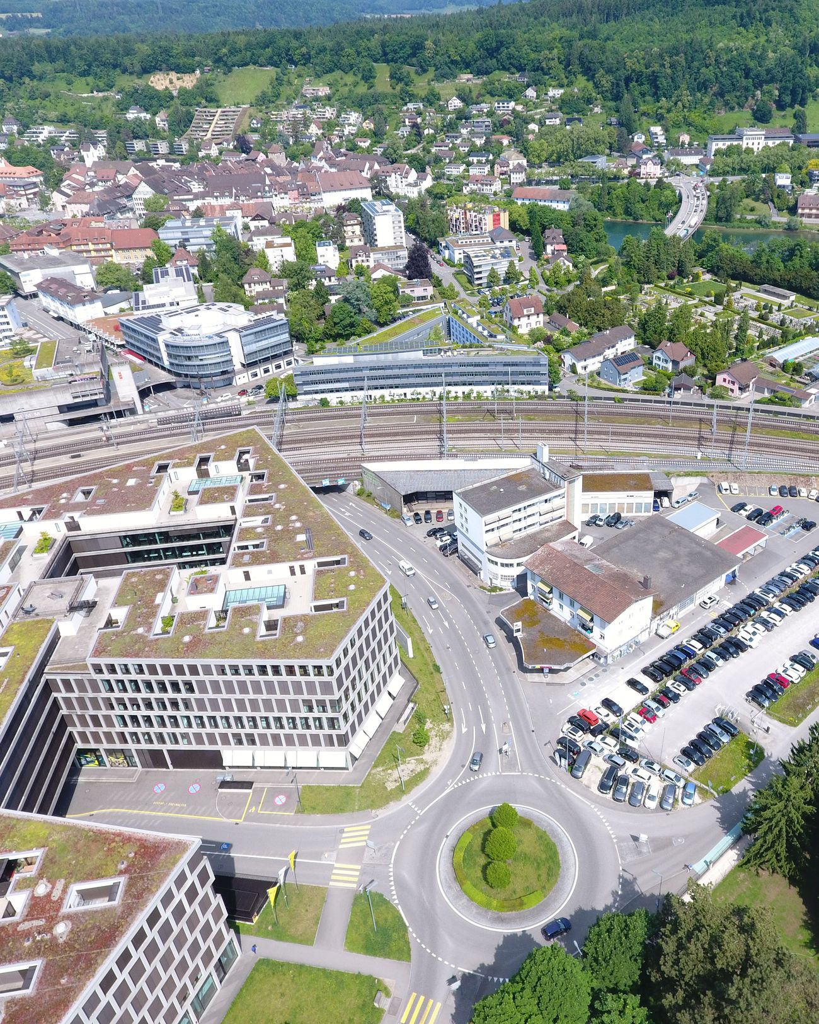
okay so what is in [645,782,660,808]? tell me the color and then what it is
white car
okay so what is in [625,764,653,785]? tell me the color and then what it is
white car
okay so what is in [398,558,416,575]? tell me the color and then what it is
white vehicle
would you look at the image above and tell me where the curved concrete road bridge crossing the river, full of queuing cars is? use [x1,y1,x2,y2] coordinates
[652,182,707,253]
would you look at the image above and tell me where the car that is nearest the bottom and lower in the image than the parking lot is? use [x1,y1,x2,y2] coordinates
[539,914,574,942]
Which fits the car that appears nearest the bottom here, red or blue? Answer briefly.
blue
